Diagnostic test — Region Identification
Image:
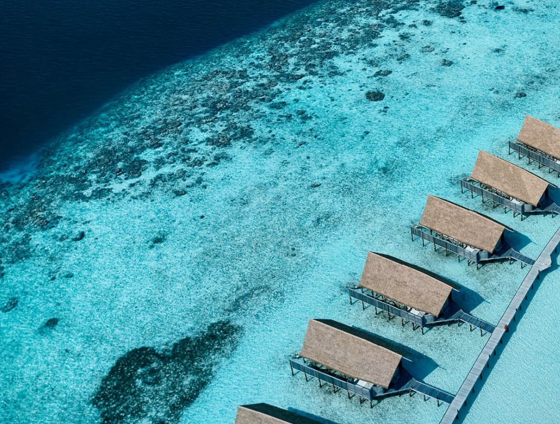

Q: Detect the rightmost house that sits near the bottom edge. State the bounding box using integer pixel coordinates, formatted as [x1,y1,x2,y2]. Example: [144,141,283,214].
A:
[286,318,415,413]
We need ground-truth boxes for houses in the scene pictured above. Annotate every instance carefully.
[345,251,462,339]
[286,318,415,413]
[233,404,314,424]
[506,115,560,181]
[459,150,557,225]
[407,194,514,274]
